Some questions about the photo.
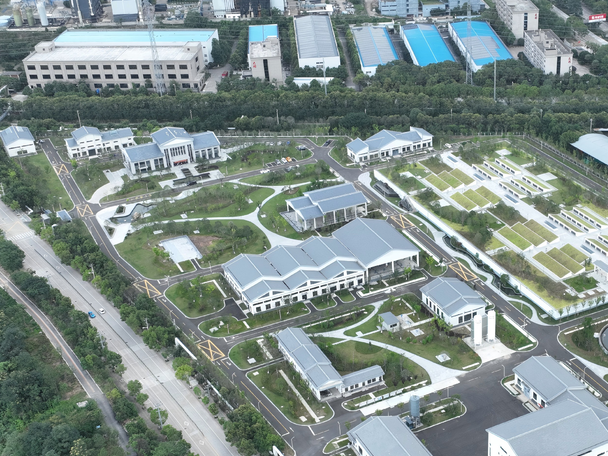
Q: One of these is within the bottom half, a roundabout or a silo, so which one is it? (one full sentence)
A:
The one visible within the bottom half is a silo.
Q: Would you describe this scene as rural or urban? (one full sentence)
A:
From above, the setting appears urban.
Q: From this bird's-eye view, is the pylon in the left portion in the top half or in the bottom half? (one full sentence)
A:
The top half of the photo is where the pylon in the left portion is.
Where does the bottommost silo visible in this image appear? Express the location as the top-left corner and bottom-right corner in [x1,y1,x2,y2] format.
[399,384,427,432]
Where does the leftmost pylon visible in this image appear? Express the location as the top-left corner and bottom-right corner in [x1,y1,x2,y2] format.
[138,0,168,85]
